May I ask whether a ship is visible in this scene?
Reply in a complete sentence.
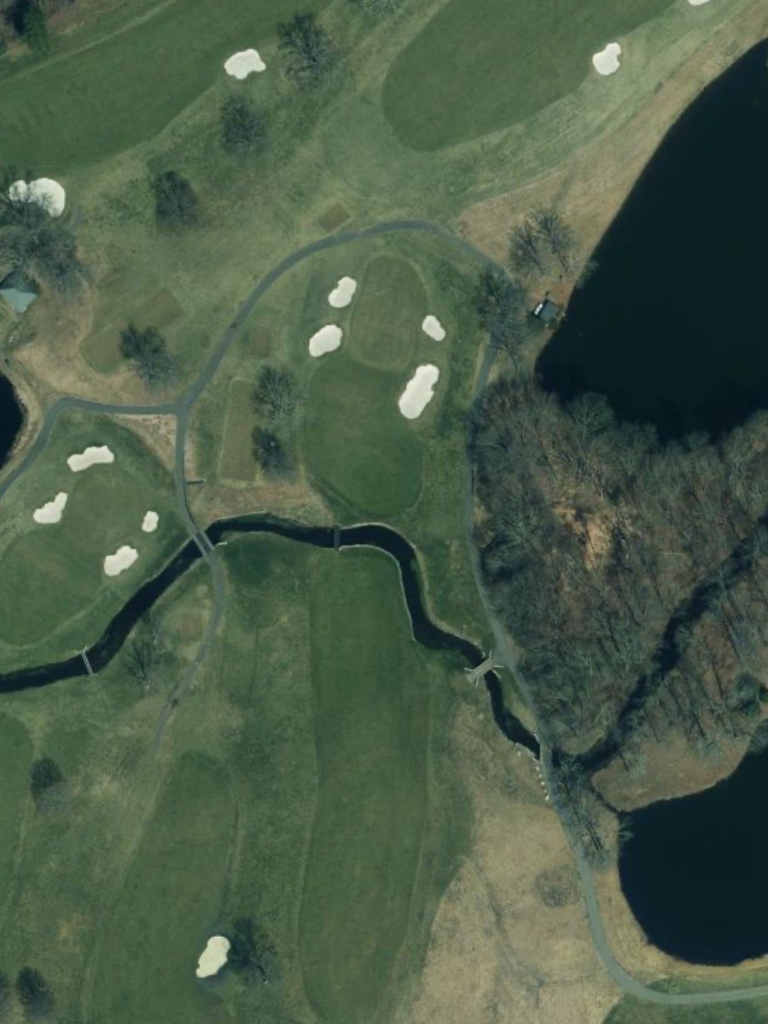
No, no ship is visible in the scene.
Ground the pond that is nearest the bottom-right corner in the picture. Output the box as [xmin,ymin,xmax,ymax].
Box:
[617,728,768,965]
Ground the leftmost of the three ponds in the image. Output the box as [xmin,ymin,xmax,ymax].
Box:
[0,370,25,471]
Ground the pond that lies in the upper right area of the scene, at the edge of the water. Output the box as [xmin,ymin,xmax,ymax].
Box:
[536,39,768,458]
